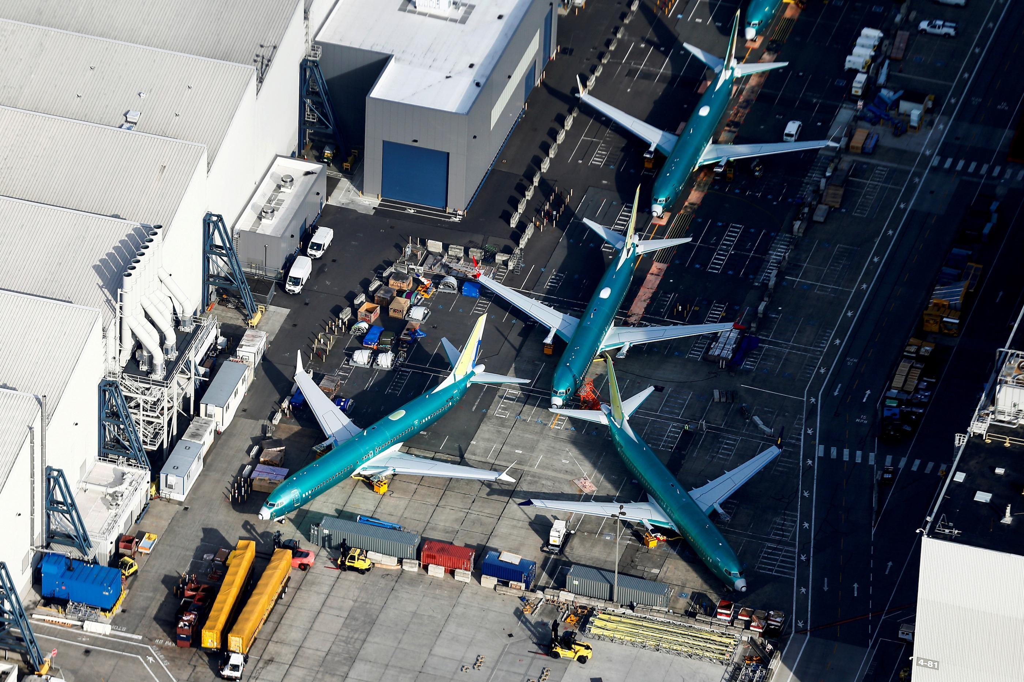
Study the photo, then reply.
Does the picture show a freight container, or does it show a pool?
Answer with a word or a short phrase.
freight container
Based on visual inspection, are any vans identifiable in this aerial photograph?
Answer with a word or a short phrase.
Yes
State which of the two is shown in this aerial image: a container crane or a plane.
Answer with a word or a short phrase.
plane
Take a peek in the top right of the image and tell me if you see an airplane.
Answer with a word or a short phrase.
Yes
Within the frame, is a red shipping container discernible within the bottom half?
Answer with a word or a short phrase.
Yes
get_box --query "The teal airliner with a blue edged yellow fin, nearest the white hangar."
[257,313,531,524]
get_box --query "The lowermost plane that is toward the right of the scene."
[518,353,784,592]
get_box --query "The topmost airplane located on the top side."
[742,0,784,44]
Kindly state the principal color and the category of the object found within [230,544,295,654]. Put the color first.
orange trailer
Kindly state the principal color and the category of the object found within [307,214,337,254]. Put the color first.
white van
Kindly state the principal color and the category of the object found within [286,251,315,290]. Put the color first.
white van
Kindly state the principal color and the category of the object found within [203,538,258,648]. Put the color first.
orange trailer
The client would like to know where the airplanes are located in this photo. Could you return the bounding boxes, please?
[257,313,531,524]
[742,0,784,44]
[471,184,746,409]
[518,353,784,592]
[576,9,839,221]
